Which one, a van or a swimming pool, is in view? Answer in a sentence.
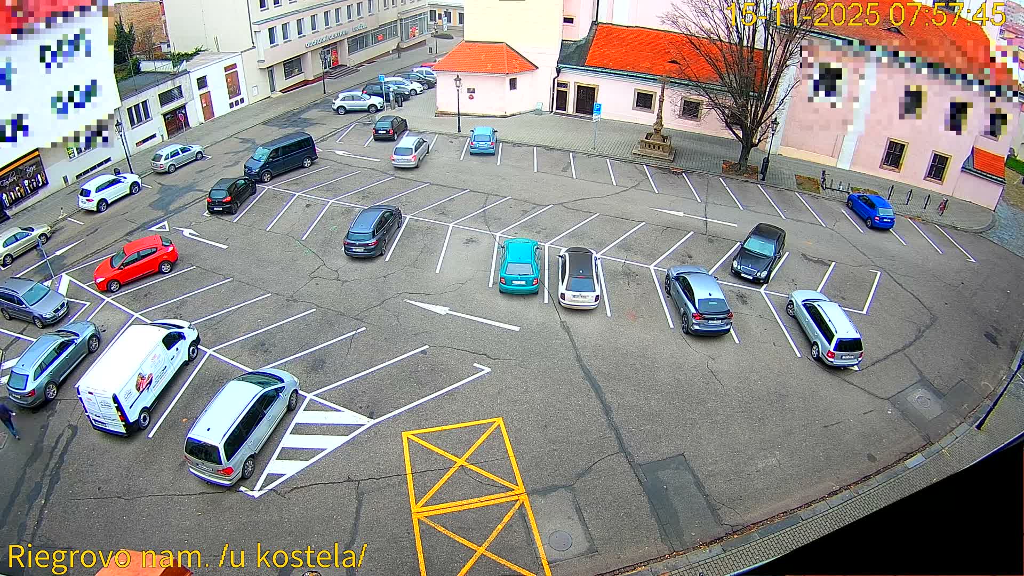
The image shows a van.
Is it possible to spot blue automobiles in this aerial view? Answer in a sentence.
Yes, looking at the shot, I can spot a blue automobile.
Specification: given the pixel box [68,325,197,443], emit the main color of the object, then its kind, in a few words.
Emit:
white van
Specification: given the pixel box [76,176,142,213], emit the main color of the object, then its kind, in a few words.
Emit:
white car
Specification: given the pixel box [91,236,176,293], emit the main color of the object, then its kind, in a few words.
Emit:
red car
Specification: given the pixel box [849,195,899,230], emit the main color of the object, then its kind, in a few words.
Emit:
blue car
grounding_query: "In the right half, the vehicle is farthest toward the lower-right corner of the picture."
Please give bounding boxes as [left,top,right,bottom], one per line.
[788,293,869,368]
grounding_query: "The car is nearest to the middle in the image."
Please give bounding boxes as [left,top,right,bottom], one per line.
[496,236,545,291]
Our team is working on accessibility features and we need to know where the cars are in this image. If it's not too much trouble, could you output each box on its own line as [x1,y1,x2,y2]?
[469,129,498,154]
[331,90,385,114]
[179,370,297,490]
[0,225,51,265]
[371,114,407,141]
[849,195,899,230]
[76,176,142,213]
[91,236,176,293]
[788,293,869,368]
[366,83,412,100]
[733,218,786,282]
[390,137,429,167]
[0,324,99,411]
[201,178,255,215]
[551,245,604,306]
[423,62,439,70]
[393,73,435,89]
[667,269,737,335]
[339,206,401,259]
[149,145,205,173]
[0,276,71,328]
[496,236,545,291]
